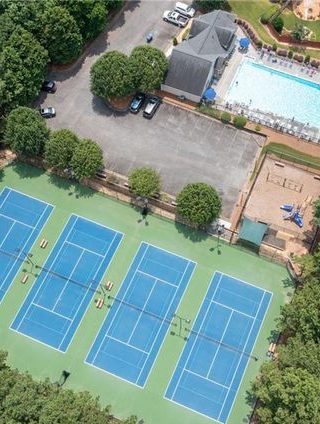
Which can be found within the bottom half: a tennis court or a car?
tennis court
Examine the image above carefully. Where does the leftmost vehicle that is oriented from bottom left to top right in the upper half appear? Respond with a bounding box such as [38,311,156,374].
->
[128,91,144,112]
